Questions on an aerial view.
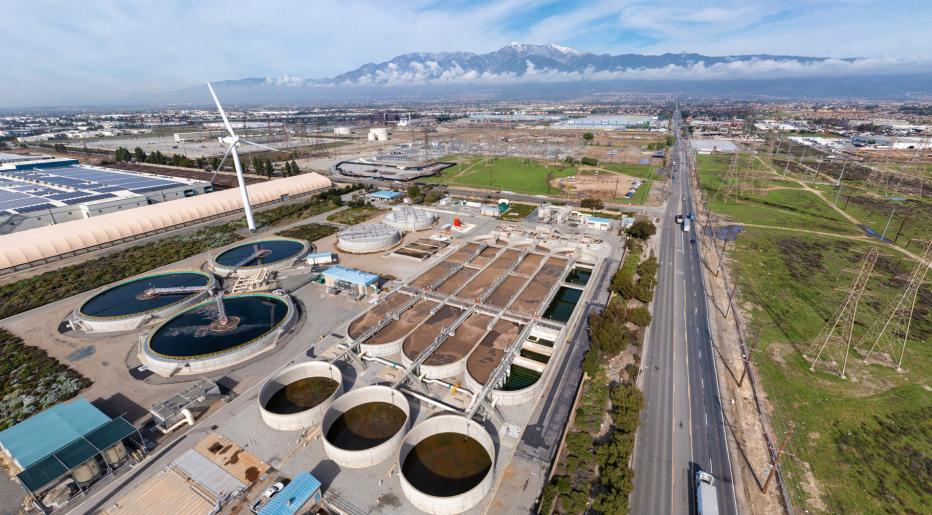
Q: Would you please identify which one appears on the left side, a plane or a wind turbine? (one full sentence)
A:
Visible on the left side is a wind turbine.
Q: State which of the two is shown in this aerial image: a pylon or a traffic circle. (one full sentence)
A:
It is a pylon that can be seen here.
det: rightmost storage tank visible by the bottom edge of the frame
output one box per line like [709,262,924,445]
[399,414,496,513]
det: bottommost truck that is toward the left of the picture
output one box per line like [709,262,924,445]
[250,483,287,514]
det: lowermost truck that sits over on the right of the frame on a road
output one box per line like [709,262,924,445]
[695,472,720,515]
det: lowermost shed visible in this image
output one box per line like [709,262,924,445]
[260,472,322,515]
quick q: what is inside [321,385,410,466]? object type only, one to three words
storage tank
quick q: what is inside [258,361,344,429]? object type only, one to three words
storage tank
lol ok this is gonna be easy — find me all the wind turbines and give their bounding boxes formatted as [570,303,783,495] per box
[211,85,279,232]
